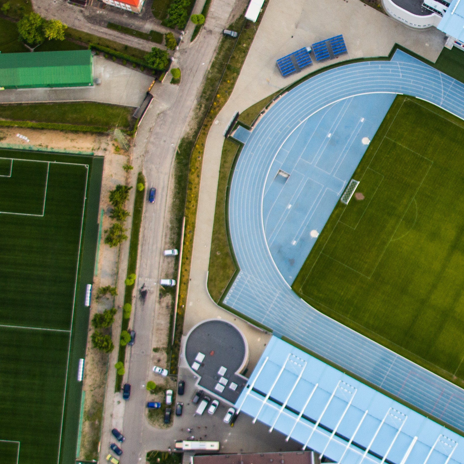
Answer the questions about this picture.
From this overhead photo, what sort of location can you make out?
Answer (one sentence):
What you see here is a sports ground.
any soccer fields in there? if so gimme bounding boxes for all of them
[0,148,104,464]
[292,94,464,390]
